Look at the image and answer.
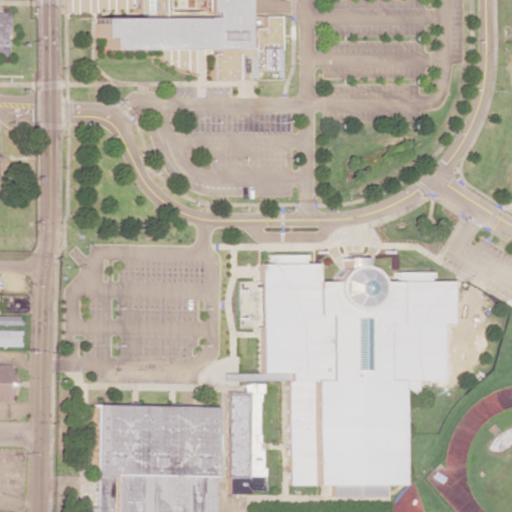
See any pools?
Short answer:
No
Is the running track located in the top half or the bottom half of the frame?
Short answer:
bottom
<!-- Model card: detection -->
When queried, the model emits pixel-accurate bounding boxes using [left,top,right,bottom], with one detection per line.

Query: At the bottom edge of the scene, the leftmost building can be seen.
[96,405,222,512]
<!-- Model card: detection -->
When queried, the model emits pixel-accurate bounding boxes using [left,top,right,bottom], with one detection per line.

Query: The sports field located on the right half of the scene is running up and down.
[466,408,512,512]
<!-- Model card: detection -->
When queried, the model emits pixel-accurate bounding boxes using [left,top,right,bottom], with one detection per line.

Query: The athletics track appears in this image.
[428,388,512,512]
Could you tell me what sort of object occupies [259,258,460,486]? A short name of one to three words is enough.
building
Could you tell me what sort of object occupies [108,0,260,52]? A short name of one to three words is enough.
building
